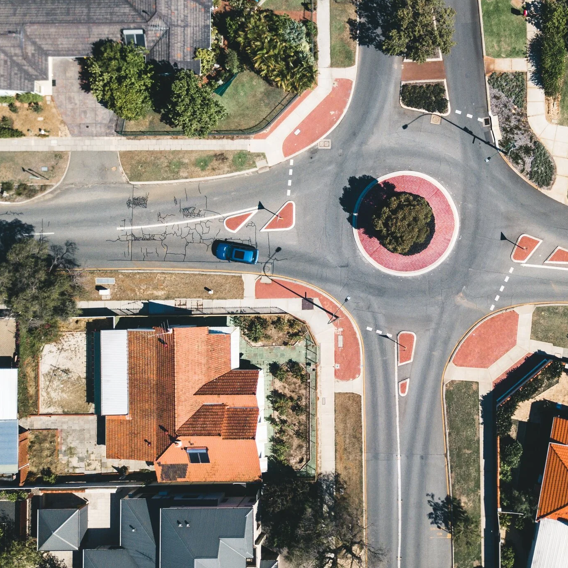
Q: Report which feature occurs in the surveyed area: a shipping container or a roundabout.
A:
roundabout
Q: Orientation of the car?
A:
from side to side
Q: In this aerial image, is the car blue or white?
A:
blue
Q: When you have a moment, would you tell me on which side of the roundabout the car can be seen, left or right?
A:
left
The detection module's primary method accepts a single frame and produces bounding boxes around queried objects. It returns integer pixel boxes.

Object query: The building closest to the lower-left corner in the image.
[36,501,89,551]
